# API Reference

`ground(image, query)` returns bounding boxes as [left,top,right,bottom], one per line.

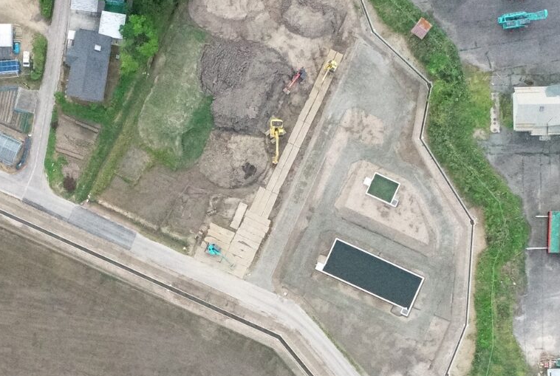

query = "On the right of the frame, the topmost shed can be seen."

[408,18,433,43]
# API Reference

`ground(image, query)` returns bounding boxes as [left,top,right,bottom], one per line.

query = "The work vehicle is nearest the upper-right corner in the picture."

[318,57,339,84]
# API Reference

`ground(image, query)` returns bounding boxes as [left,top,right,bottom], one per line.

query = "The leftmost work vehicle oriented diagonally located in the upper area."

[285,66,309,95]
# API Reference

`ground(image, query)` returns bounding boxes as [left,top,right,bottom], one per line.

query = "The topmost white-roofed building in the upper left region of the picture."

[69,0,98,16]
